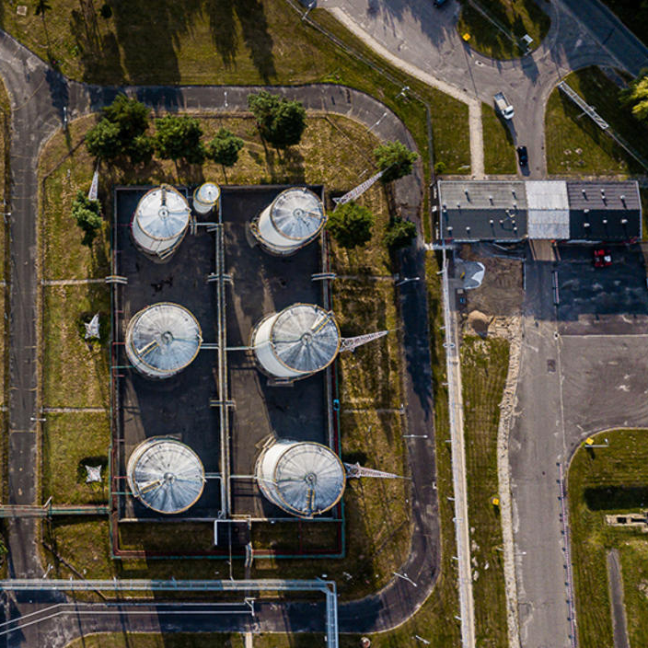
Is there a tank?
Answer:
Yes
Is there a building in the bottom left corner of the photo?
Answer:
No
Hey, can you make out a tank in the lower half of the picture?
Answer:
Yes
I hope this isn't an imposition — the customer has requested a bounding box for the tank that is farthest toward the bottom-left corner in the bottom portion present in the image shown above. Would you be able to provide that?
[125,439,206,513]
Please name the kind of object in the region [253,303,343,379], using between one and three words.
storage tank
